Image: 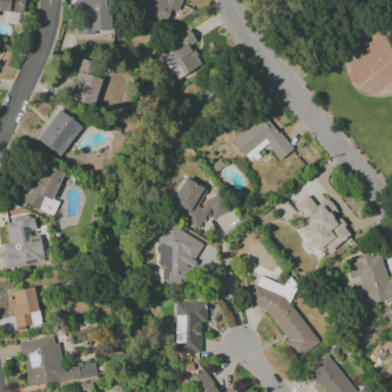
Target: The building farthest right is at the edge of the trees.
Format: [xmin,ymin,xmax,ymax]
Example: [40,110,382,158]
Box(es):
[350,254,392,304]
